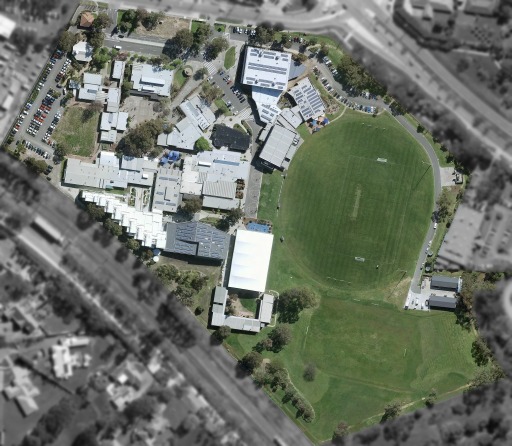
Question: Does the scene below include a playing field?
Yes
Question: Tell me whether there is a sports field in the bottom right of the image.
Yes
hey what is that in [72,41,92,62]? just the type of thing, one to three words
house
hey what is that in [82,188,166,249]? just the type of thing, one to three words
building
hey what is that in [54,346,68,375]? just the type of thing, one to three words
house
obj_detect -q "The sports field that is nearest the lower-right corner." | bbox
[310,296,478,393]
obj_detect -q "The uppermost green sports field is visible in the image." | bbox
[278,108,434,292]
